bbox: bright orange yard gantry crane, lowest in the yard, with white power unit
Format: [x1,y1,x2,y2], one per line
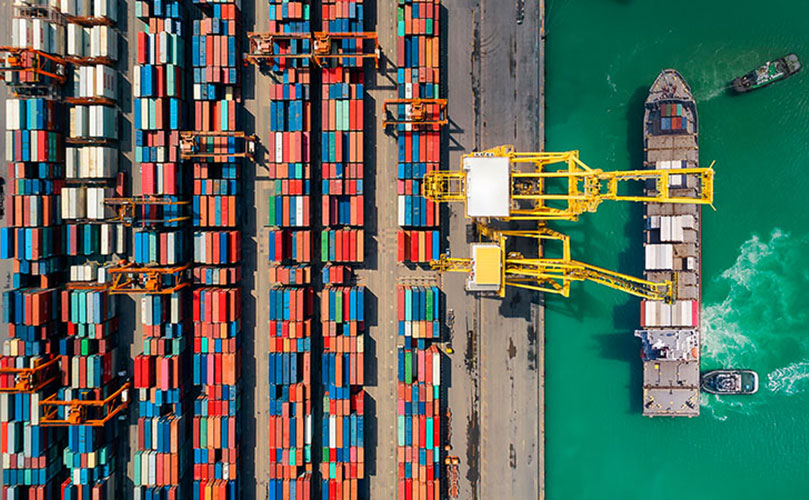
[38,378,131,427]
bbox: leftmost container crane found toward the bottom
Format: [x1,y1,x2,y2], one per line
[0,349,63,395]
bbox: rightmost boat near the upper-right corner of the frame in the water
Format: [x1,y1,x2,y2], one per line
[729,53,800,96]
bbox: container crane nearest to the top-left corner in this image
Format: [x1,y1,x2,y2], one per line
[0,43,70,85]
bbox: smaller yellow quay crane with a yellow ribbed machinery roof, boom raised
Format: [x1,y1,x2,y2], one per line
[425,220,670,302]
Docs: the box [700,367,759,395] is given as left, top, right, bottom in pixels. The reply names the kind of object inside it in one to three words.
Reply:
boat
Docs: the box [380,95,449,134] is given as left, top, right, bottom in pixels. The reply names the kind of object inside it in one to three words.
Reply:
container crane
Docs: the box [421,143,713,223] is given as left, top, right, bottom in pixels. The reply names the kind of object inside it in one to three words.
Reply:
container crane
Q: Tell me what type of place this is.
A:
port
